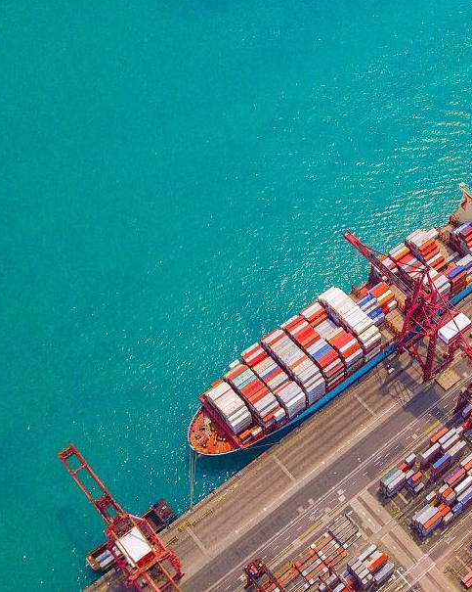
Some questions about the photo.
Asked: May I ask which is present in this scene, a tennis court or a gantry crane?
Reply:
gantry crane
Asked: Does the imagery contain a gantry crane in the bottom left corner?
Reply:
Yes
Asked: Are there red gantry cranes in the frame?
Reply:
Yes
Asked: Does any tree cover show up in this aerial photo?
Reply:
No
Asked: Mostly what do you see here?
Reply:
water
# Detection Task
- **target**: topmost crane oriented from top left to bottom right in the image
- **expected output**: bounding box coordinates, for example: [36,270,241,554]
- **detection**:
[339,233,472,383]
